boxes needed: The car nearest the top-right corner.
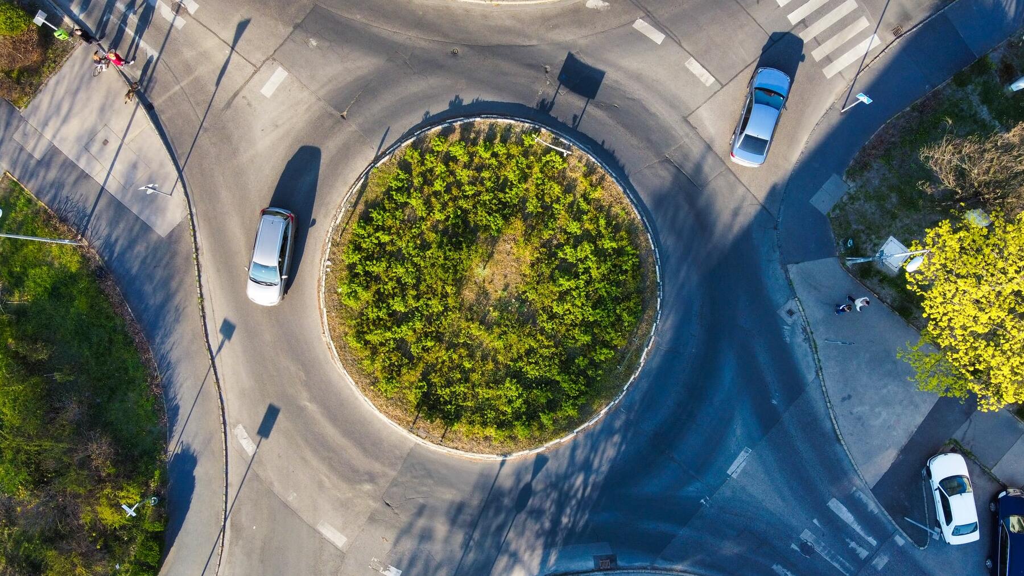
[728,66,789,169]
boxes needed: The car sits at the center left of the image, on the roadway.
[243,208,300,306]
